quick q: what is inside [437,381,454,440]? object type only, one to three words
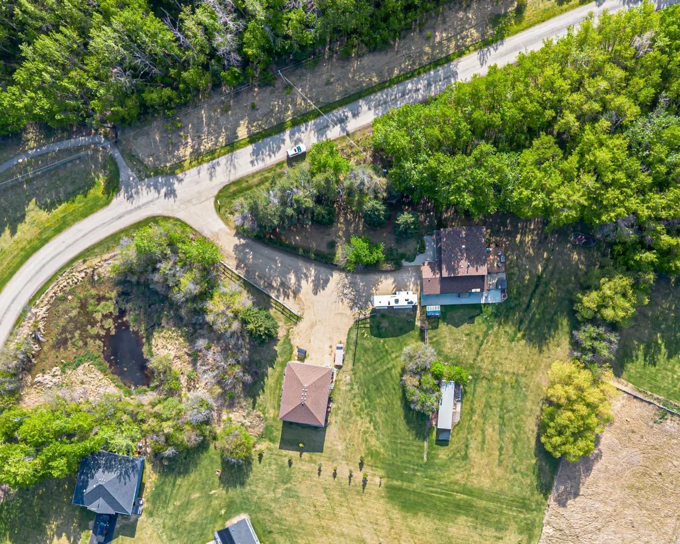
shed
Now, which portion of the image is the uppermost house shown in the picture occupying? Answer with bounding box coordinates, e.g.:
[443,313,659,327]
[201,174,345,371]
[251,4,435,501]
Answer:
[421,227,505,306]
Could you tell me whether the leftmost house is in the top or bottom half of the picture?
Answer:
bottom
